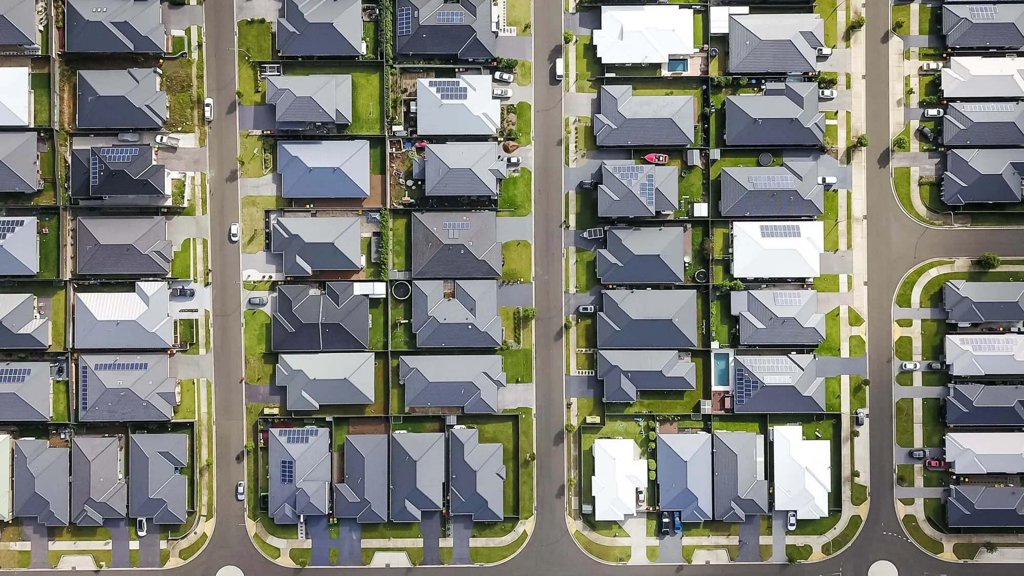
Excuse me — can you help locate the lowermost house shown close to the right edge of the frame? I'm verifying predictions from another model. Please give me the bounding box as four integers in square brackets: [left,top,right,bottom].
[943,484,1024,527]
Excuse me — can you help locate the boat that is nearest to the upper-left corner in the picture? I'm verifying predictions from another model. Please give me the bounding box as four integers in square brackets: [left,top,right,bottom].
[260,65,280,77]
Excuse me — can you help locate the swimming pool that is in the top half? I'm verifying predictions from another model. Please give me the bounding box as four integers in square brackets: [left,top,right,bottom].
[667,58,689,72]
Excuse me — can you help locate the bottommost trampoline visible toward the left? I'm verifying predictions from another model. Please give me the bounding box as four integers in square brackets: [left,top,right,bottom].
[392,281,412,300]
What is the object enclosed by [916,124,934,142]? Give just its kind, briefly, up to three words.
car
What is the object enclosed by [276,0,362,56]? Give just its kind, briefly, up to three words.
house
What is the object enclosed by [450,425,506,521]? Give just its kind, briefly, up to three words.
house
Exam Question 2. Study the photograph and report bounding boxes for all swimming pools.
[713,353,730,387]
[667,58,689,72]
